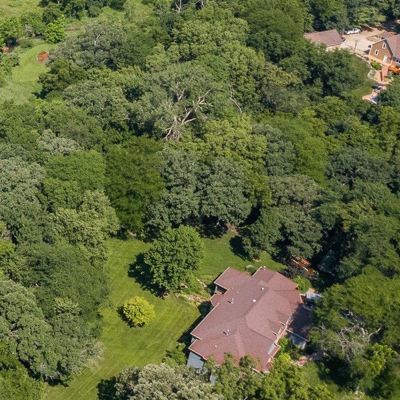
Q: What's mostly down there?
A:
trees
